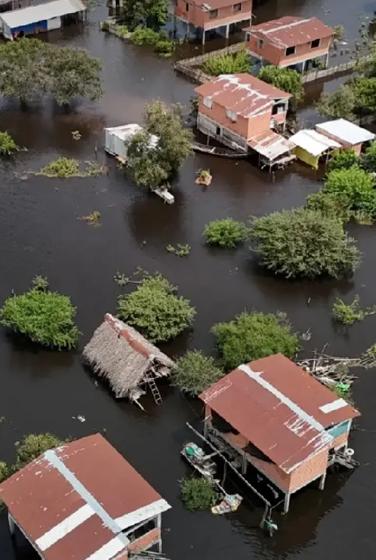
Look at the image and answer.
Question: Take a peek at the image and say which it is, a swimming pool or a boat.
boat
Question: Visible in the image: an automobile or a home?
home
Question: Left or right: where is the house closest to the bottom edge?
left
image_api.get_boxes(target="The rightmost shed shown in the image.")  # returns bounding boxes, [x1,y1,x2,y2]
[316,119,376,159]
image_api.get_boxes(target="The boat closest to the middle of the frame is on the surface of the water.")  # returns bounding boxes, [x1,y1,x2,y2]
[156,187,175,205]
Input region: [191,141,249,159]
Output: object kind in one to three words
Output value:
boat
